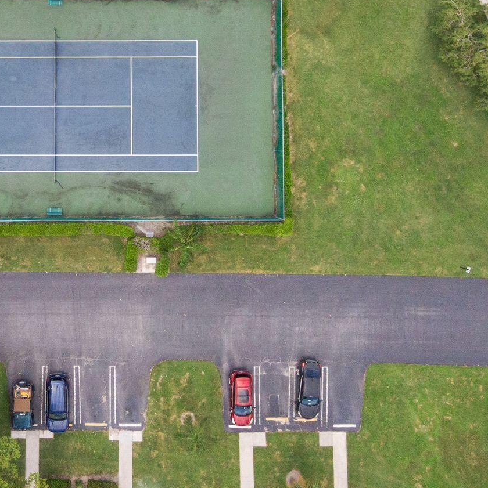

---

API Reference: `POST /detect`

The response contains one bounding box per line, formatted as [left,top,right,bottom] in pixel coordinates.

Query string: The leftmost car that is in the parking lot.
[12,383,34,430]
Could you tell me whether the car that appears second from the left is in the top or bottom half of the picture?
bottom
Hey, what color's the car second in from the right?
red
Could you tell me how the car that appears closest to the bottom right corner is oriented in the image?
from top to bottom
